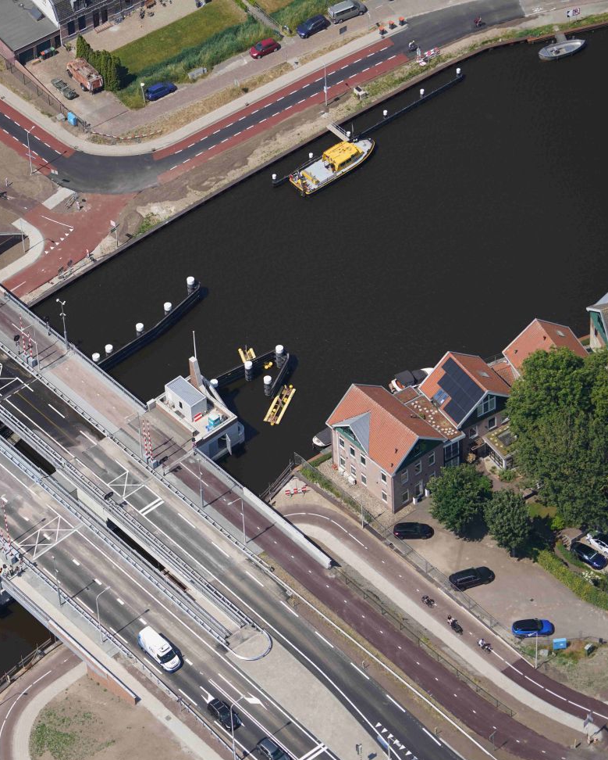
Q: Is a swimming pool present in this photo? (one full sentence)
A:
No, there appears to be no swimming pool in this shot.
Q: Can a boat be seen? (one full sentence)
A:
Yes, I can see a boat in this picture.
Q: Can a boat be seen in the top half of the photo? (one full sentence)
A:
Yes, looking in the top half of the photo, one can make out a boat.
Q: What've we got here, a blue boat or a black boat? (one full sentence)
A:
Of the two, only a black boat appears.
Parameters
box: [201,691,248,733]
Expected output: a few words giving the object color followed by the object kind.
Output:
black car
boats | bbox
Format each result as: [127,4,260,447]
[387,363,432,390]
[307,421,329,448]
[286,133,373,198]
[537,39,584,59]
